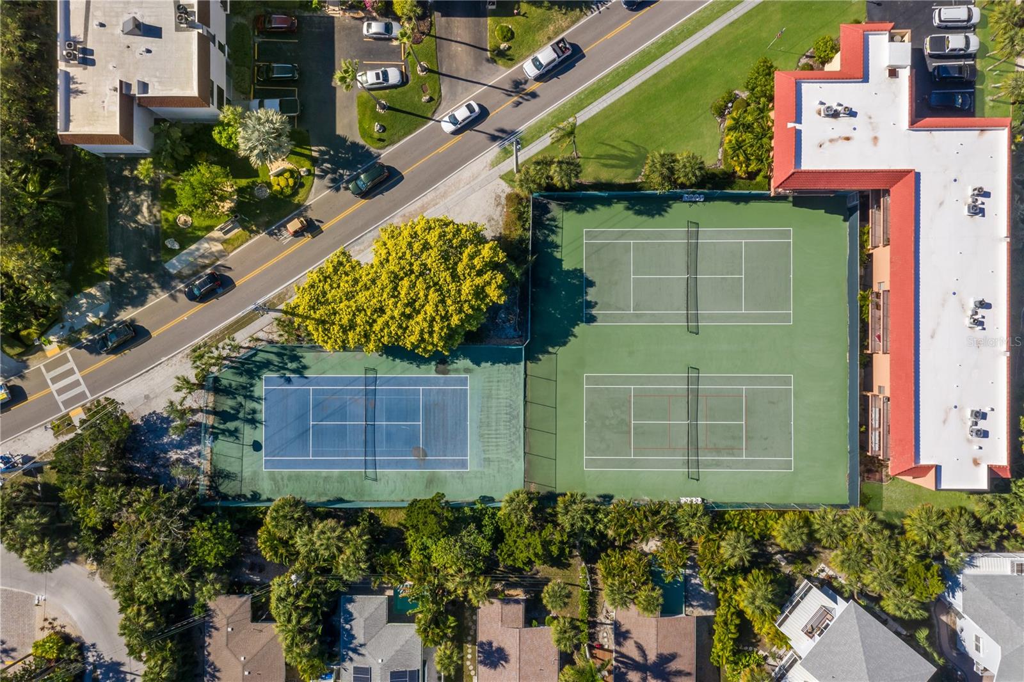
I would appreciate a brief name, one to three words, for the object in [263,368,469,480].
tennis court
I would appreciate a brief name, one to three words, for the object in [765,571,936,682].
house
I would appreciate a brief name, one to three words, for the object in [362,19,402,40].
car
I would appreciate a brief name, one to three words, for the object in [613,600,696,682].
house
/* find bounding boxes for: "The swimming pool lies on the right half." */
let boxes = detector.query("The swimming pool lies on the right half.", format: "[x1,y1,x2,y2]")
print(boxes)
[649,553,687,613]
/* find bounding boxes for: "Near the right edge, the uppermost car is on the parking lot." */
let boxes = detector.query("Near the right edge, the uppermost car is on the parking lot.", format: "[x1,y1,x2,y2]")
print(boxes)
[932,5,979,28]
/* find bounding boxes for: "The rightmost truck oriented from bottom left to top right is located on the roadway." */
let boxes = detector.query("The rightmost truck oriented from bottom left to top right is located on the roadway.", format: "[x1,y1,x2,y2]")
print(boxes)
[523,36,573,80]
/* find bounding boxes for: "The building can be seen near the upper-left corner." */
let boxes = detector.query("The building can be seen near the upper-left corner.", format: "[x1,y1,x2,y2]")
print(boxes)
[58,0,229,150]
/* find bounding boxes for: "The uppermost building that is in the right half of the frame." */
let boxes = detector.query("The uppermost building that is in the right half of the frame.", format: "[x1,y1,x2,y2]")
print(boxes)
[761,24,1010,489]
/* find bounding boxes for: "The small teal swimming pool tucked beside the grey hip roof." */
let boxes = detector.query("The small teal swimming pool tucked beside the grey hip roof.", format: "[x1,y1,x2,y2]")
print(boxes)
[392,585,422,616]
